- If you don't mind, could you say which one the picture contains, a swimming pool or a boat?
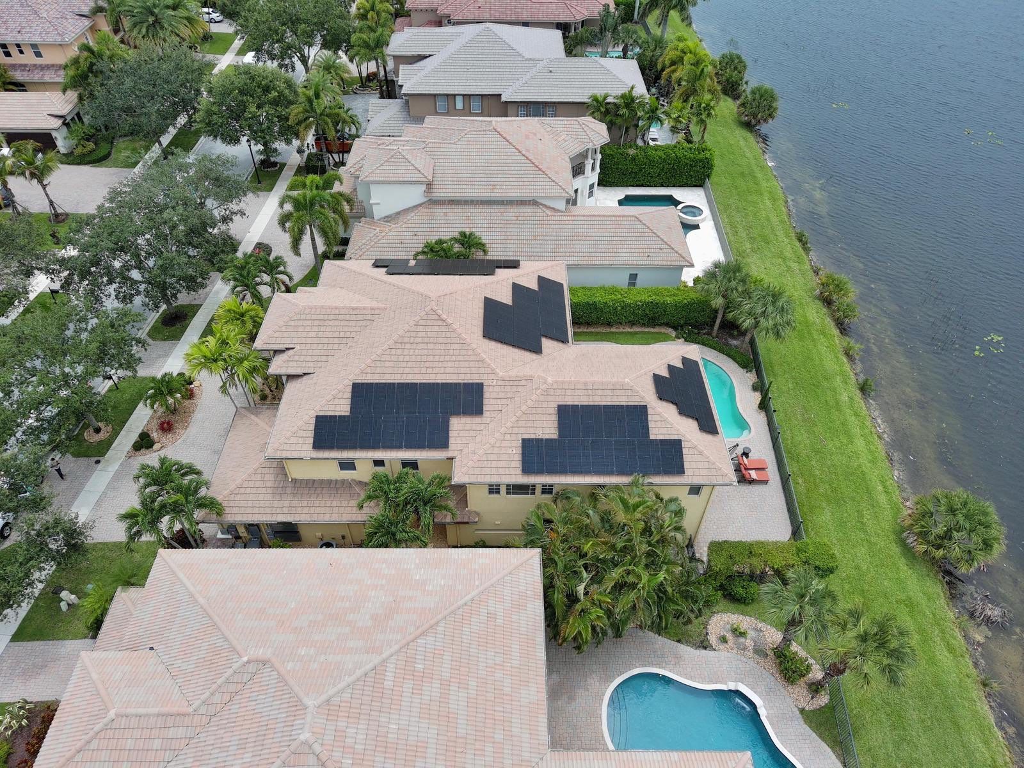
swimming pool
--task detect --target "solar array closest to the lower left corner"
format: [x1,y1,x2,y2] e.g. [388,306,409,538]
[311,384,485,450]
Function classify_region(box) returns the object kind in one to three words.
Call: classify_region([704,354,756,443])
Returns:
swimming pool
